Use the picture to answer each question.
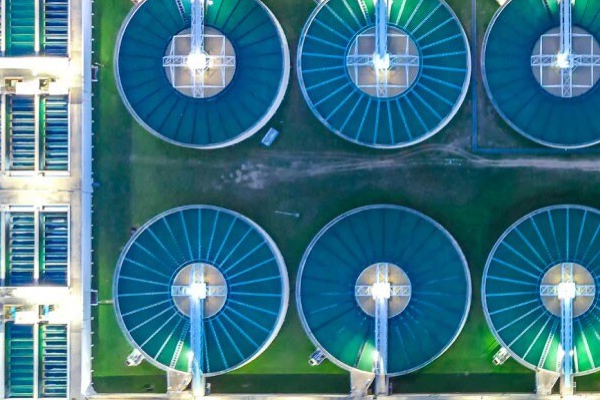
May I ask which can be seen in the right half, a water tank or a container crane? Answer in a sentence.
The feature located in the right half is a water tank.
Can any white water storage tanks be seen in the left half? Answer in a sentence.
No, there's no white water storage tank to be seen in the left half.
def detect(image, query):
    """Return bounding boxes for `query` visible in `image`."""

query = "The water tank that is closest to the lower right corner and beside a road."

[480,204,600,400]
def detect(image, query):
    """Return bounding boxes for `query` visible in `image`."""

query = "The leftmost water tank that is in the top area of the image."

[112,0,288,148]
